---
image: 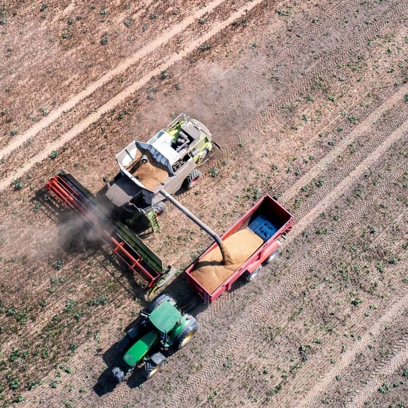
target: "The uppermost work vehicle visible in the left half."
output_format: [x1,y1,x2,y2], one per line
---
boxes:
[45,113,222,299]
